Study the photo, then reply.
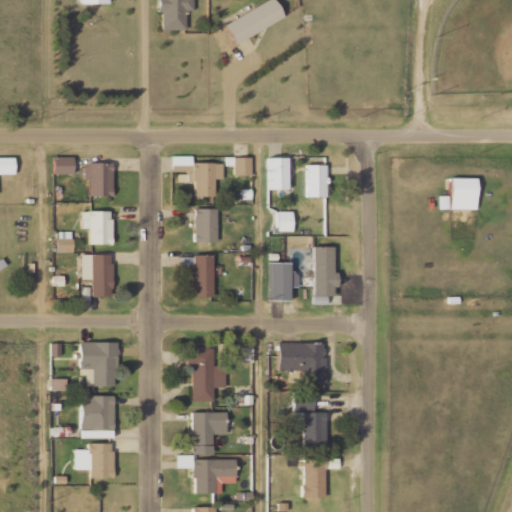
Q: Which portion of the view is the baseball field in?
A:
top right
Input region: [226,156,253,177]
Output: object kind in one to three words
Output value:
building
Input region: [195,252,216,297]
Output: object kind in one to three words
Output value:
house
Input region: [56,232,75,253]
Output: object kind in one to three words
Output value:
shed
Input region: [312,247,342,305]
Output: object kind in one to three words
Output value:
house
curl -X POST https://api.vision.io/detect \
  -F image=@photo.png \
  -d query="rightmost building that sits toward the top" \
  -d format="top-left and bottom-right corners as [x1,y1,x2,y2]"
[438,178,482,210]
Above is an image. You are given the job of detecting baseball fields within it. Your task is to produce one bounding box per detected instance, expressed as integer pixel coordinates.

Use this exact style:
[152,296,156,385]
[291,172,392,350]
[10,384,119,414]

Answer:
[434,0,512,92]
